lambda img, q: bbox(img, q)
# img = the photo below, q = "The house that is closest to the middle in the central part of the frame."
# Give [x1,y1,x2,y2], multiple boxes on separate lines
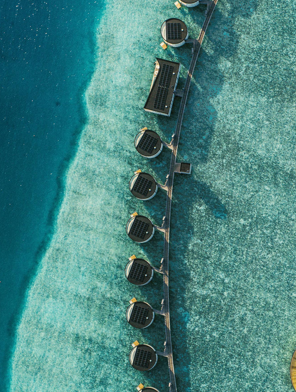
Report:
[130,167,158,199]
